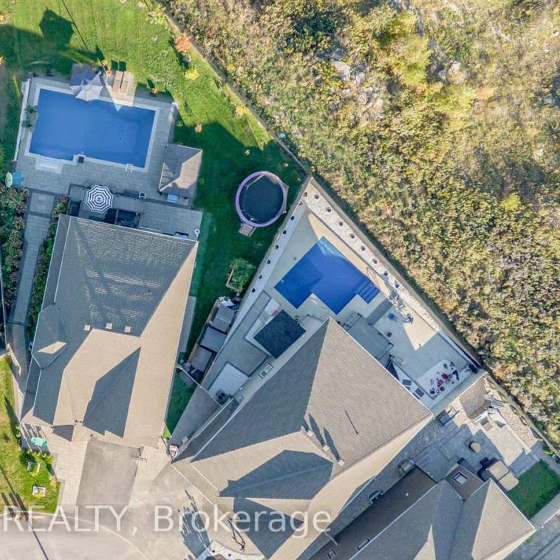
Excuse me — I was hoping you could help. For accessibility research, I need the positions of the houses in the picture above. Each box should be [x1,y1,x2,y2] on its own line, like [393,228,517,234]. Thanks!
[304,464,536,560]
[171,318,433,560]
[20,214,199,449]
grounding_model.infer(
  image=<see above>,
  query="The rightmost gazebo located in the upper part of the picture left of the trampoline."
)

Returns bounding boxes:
[158,144,202,199]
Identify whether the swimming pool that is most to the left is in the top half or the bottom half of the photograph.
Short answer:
top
